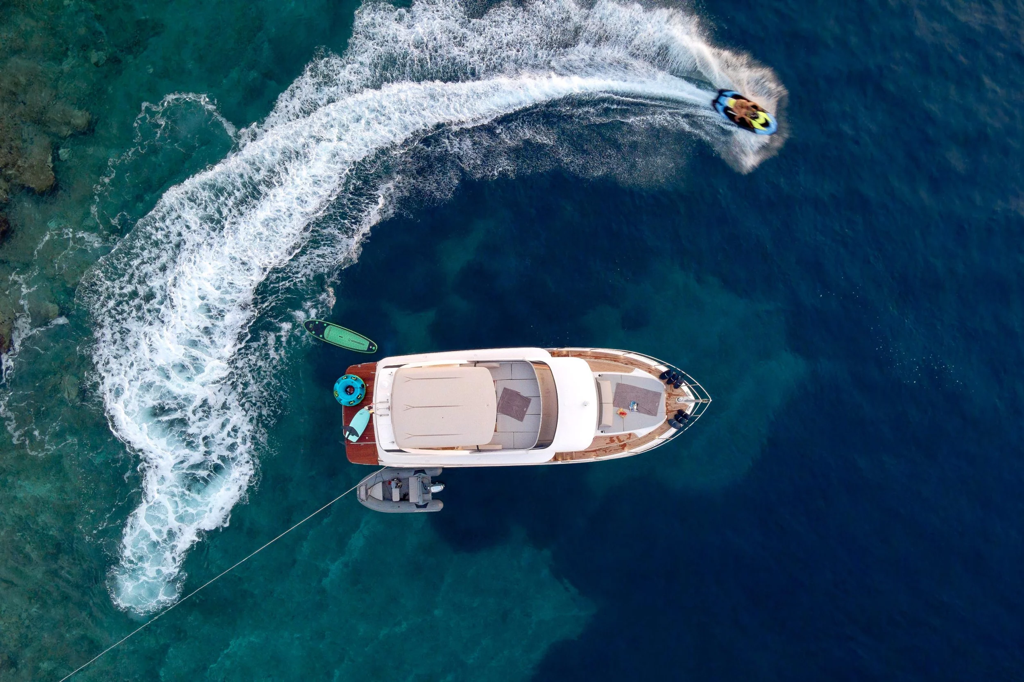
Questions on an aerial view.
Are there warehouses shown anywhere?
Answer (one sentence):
No, I can see no warehouse in this picture.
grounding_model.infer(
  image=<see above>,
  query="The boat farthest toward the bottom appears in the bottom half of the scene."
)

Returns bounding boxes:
[356,467,444,513]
